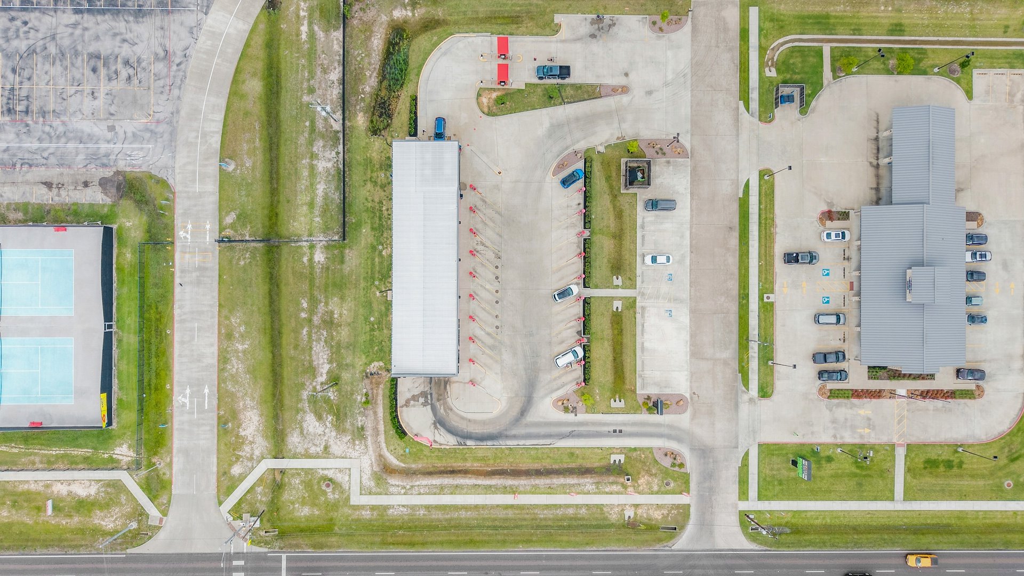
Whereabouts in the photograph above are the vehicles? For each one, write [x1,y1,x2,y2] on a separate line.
[966,232,990,246]
[966,294,985,307]
[820,228,850,242]
[811,350,847,365]
[955,368,986,381]
[554,346,584,368]
[966,269,987,283]
[966,313,990,326]
[966,250,993,263]
[552,284,579,303]
[783,250,820,265]
[817,369,848,382]
[645,198,677,212]
[433,117,446,139]
[536,64,570,79]
[904,553,939,569]
[644,253,672,266]
[813,312,846,326]
[559,169,586,190]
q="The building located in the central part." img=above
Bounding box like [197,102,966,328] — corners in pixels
[391,139,461,378]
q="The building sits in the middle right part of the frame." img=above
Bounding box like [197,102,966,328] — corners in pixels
[852,103,966,375]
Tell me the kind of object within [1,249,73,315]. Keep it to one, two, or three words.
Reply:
tennis court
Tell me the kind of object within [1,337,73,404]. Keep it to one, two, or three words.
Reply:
tennis court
